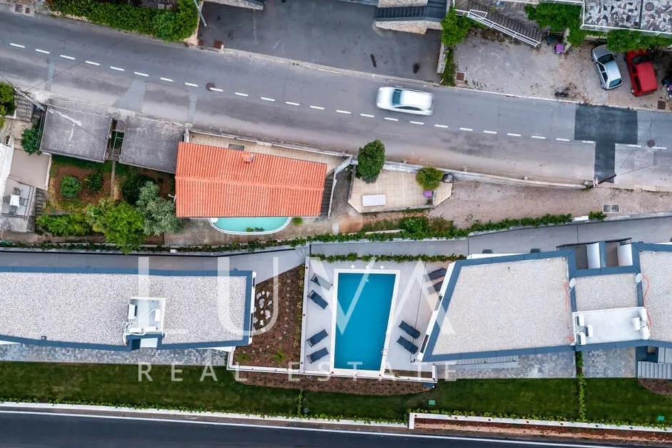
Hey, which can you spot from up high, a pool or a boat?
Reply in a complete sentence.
Of the two, only a pool appears.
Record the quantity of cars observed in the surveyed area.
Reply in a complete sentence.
The number of cars here is 3.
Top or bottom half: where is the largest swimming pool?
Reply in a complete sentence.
The largest swimming pool sits in the bottom half of the picture.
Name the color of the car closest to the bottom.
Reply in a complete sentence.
The color of the car closest to the bottom is white.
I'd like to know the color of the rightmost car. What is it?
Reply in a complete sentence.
In this view, the rightmost car is red.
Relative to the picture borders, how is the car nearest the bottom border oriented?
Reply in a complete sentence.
In this picture, the car nearest the bottom border lies from left to right.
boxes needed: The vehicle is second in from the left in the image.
[592,44,629,92]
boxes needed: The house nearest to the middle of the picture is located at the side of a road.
[175,142,327,218]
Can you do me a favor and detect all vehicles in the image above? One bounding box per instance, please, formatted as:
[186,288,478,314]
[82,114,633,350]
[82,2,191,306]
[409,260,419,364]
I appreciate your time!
[627,47,662,98]
[592,44,629,92]
[377,83,435,114]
